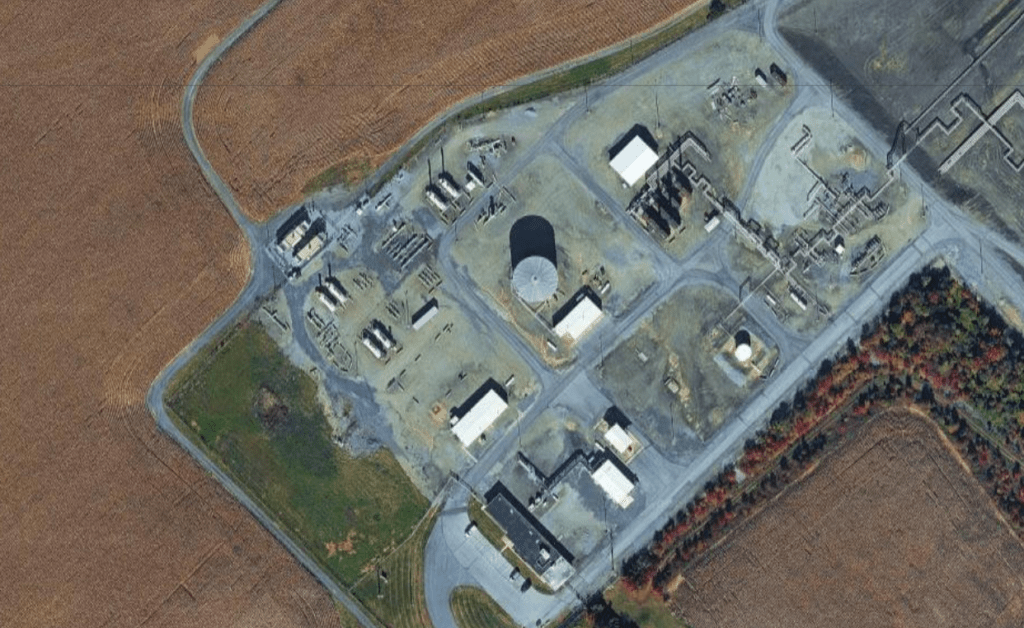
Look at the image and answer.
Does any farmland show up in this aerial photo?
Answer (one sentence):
Yes, the picture does contain farmland.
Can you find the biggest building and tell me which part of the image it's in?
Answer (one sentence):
The biggest building is in the bottom part of the image.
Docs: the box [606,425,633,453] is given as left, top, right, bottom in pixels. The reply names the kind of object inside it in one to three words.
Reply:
building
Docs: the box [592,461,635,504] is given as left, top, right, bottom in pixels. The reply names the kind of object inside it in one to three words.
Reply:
building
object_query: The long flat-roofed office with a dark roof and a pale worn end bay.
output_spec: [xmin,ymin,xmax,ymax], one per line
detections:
[485,494,576,592]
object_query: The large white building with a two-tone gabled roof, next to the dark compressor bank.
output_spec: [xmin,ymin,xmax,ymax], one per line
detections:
[609,135,659,185]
